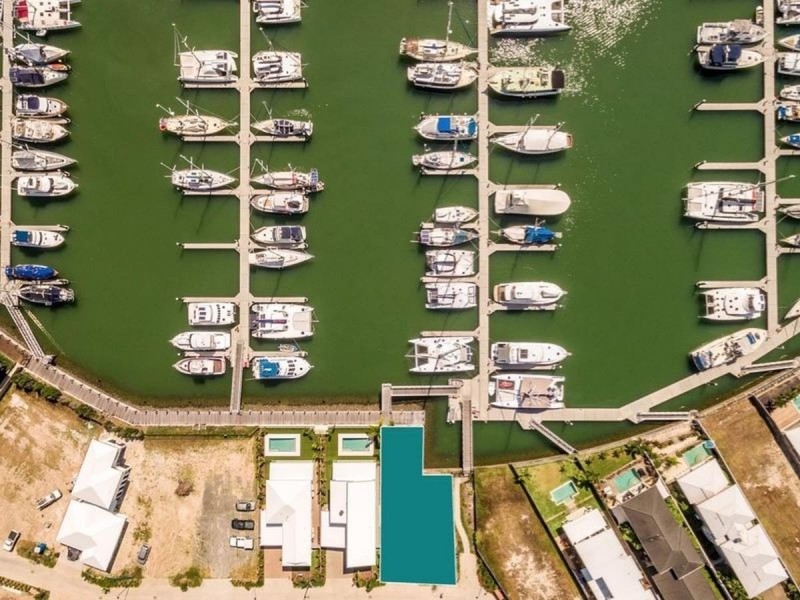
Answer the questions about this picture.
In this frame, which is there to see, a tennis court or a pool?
pool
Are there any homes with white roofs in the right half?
Yes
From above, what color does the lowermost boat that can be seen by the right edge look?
white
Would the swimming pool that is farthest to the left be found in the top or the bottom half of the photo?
bottom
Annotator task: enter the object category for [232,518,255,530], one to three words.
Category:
vehicle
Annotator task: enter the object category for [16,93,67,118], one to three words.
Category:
boat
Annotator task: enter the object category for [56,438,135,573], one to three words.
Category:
house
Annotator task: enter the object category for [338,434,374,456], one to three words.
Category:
swimming pool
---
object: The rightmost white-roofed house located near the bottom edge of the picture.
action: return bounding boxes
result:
[673,457,789,599]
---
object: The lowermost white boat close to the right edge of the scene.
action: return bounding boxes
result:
[688,323,772,377]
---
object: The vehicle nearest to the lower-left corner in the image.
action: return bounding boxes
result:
[3,528,22,552]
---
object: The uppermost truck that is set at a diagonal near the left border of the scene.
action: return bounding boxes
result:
[31,488,64,512]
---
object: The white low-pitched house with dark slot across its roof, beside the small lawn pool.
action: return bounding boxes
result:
[562,506,657,600]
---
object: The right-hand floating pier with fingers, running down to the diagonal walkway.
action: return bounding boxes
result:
[695,0,800,331]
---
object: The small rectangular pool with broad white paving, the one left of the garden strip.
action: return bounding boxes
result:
[265,434,301,456]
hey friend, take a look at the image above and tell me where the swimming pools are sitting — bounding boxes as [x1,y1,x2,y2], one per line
[265,434,301,456]
[682,441,714,466]
[338,434,374,456]
[611,466,643,495]
[549,480,579,505]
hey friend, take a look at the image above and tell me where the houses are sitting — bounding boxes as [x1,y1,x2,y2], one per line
[56,438,135,573]
[673,457,789,599]
[611,479,732,600]
[562,506,657,600]
[321,459,377,569]
[260,460,314,567]
[775,416,800,470]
